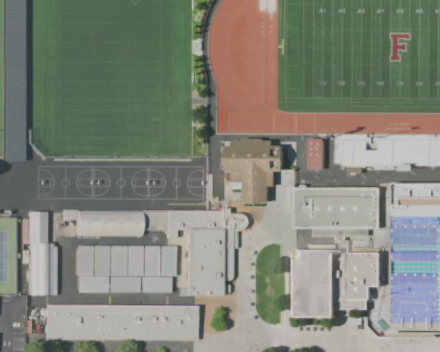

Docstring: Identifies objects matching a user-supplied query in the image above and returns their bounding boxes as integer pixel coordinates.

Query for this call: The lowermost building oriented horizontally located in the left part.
[46,305,200,340]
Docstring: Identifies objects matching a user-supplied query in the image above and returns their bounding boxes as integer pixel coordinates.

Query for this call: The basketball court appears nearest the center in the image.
[149,163,204,203]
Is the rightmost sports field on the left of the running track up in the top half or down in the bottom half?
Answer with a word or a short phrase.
top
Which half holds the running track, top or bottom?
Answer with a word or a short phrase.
top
